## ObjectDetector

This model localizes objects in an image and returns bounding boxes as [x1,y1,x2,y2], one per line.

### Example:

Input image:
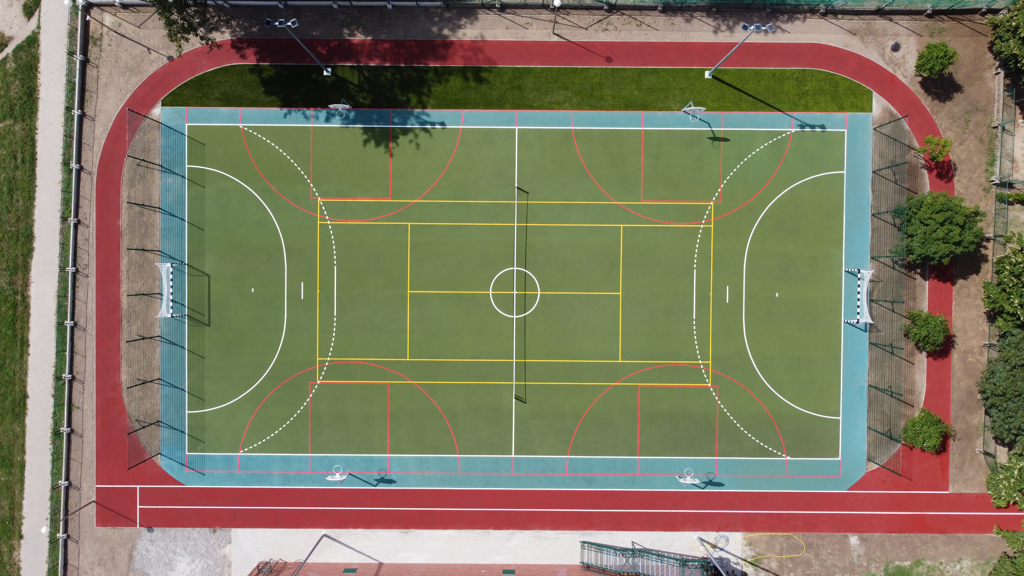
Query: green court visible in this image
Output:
[160,92,874,491]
